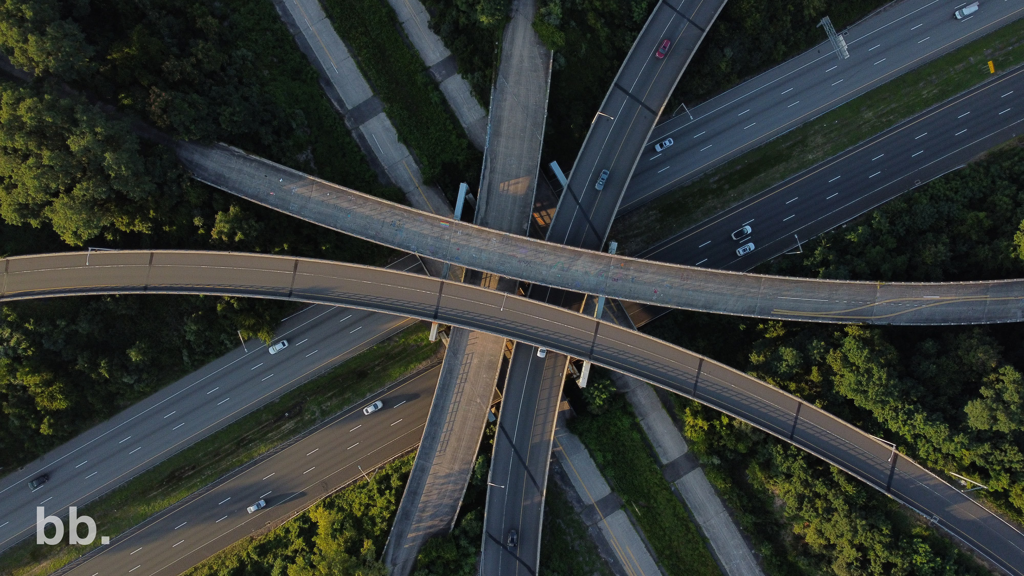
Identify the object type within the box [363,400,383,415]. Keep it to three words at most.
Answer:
car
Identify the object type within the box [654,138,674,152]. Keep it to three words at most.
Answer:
car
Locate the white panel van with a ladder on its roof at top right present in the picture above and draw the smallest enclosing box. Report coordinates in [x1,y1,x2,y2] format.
[953,2,981,20]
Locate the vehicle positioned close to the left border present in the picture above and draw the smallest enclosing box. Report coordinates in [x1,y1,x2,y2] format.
[29,474,49,489]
